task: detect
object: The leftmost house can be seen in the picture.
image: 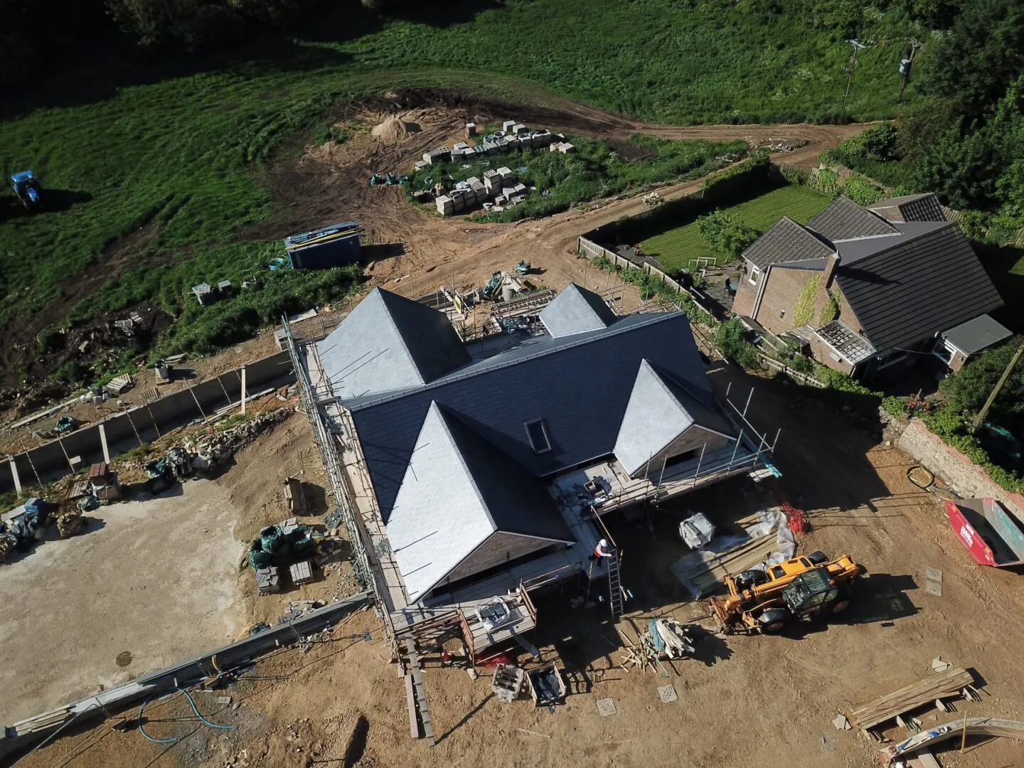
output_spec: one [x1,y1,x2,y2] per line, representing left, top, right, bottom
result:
[317,281,739,626]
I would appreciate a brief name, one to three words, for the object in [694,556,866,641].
work vehicle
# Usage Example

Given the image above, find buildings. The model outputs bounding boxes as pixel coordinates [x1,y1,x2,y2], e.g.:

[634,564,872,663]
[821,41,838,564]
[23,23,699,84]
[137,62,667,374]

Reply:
[317,281,739,626]
[737,193,1014,411]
